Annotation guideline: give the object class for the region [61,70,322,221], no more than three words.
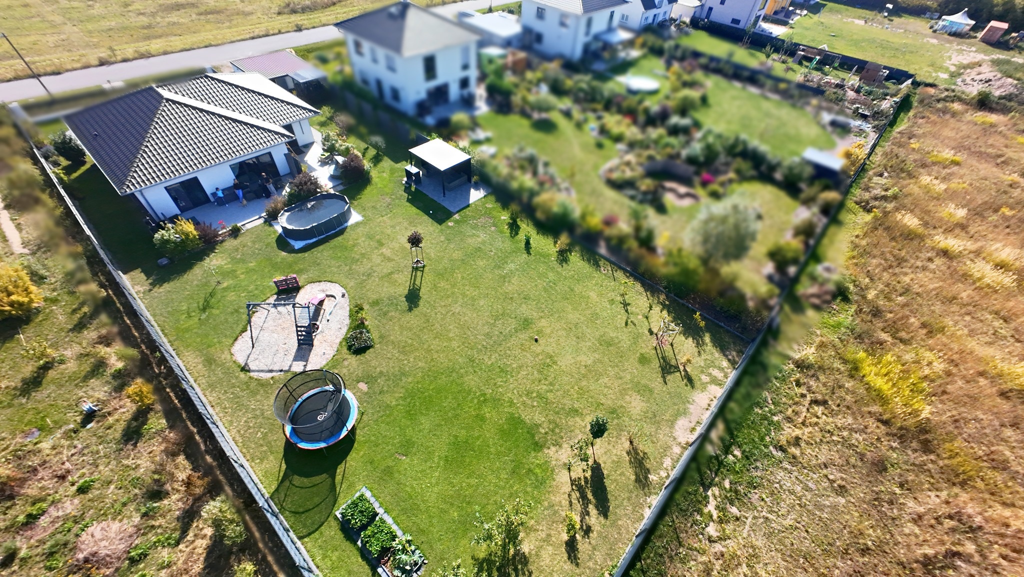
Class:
house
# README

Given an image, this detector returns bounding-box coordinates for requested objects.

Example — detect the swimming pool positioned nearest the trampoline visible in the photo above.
[278,193,352,242]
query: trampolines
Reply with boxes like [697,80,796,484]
[272,369,370,462]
